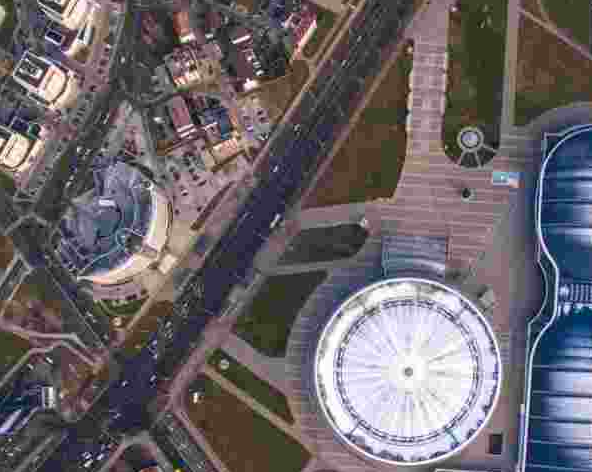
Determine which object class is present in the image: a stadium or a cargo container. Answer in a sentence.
Of the two, only a stadium appears.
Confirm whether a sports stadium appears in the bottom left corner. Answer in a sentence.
No, there is no sports stadium in the bottom left corner.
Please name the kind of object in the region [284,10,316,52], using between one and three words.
building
